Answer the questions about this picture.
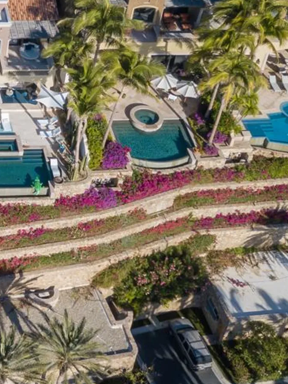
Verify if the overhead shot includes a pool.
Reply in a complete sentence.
Yes, the picture does show a pool.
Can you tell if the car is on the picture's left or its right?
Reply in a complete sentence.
The car sits on the right side.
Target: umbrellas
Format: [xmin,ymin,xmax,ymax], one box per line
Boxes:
[173,82,202,114]
[147,76,179,108]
